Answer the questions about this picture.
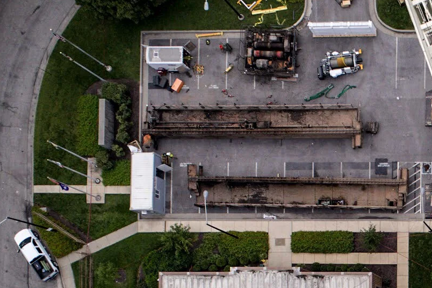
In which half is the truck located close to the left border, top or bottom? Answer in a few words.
bottom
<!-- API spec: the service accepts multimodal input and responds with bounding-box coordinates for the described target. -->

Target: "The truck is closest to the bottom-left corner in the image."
[15,226,61,282]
